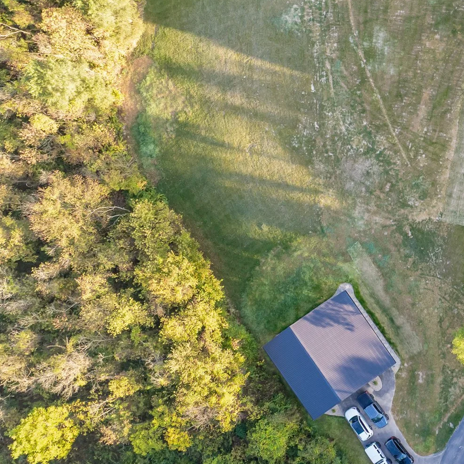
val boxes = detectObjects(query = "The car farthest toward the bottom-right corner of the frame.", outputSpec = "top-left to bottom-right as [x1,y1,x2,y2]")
[385,434,415,464]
